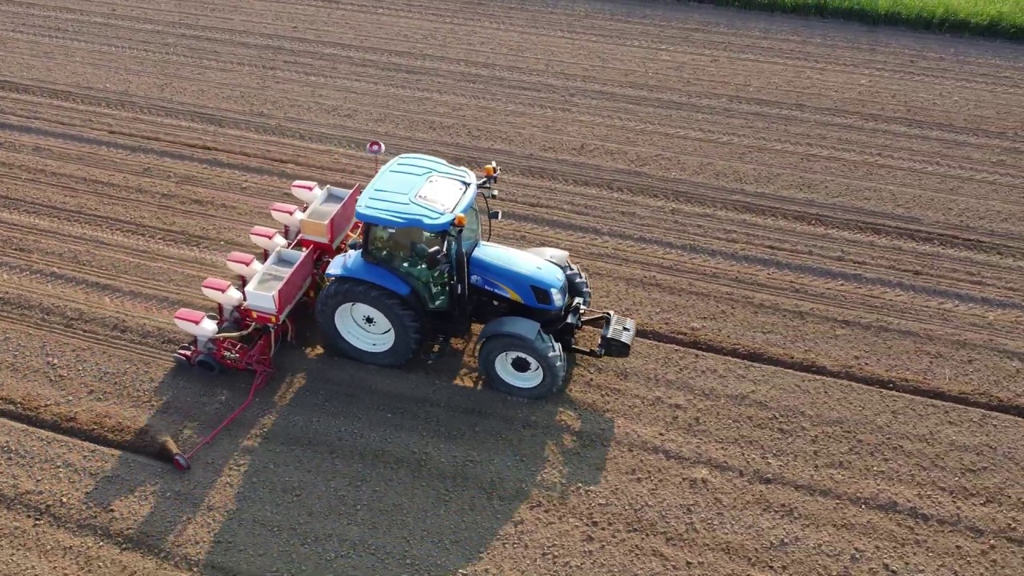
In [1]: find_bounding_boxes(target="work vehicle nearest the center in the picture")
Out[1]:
[314,155,605,398]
